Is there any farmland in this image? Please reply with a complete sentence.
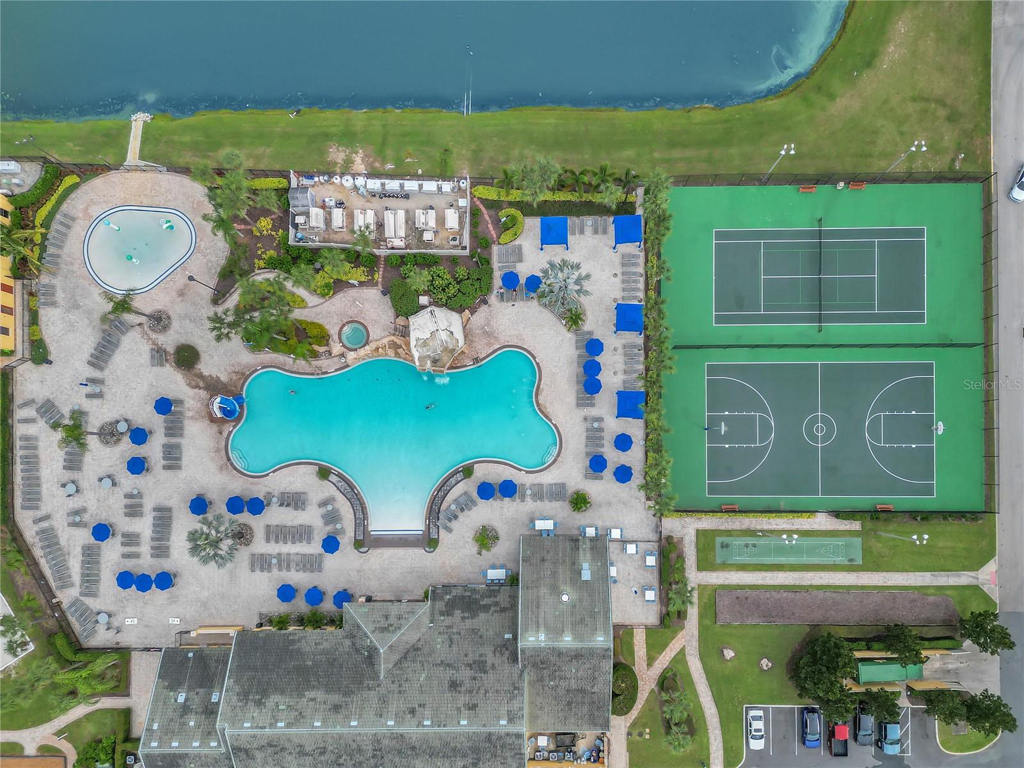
No, the scene doesn't show any farmland.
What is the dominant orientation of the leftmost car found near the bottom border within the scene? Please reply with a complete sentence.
The leftmost car found near the bottom border is laid out up and down.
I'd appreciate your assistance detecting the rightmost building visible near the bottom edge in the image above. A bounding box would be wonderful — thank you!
[139,536,613,768]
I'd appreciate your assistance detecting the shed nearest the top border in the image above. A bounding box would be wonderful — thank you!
[288,183,313,209]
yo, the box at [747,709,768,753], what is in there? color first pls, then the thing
white car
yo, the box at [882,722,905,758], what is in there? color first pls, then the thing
blue car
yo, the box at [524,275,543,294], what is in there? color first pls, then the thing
blue umbrella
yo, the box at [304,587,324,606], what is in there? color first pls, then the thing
blue umbrella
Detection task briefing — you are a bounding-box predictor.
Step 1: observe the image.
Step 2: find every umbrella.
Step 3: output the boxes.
[321,534,341,554]
[130,427,150,446]
[127,456,149,476]
[226,495,246,515]
[333,589,353,609]
[524,275,543,294]
[92,522,115,542]
[583,377,602,396]
[613,433,633,452]
[247,496,266,516]
[135,573,155,592]
[584,338,604,358]
[277,583,297,603]
[304,587,324,606]
[582,358,602,377]
[476,481,496,501]
[154,396,176,416]
[613,464,633,484]
[501,271,521,291]
[154,571,174,591]
[588,454,608,473]
[116,570,136,589]
[189,497,209,516]
[498,479,517,498]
